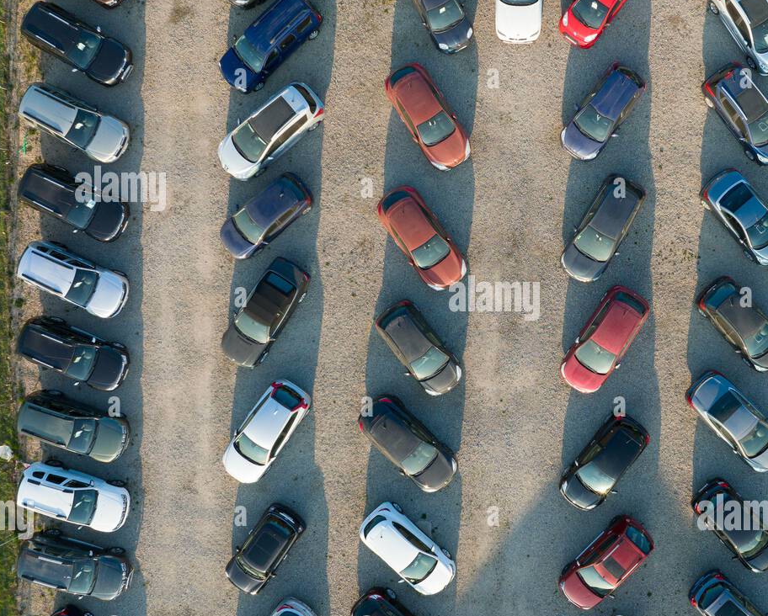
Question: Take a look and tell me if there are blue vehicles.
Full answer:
Yes, there's a blue vehicle down there.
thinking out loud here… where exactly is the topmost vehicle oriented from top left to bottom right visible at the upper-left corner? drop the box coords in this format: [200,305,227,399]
[20,0,134,87]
